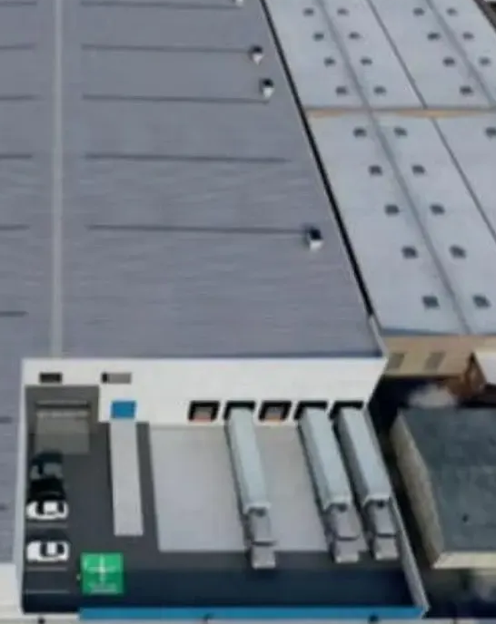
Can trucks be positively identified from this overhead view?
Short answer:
Yes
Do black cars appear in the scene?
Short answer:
Yes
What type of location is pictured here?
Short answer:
industrial area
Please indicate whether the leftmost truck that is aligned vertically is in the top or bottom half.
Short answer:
bottom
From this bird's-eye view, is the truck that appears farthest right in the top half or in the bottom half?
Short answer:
bottom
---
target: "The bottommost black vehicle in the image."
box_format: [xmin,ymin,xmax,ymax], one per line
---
[24,475,64,497]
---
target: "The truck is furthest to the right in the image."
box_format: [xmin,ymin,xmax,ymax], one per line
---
[334,407,400,567]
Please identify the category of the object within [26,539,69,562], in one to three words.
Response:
car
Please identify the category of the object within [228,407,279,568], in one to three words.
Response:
truck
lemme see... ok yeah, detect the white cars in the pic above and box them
[26,539,69,562]
[26,499,67,521]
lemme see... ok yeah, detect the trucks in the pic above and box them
[228,407,279,568]
[334,407,400,567]
[299,407,360,567]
